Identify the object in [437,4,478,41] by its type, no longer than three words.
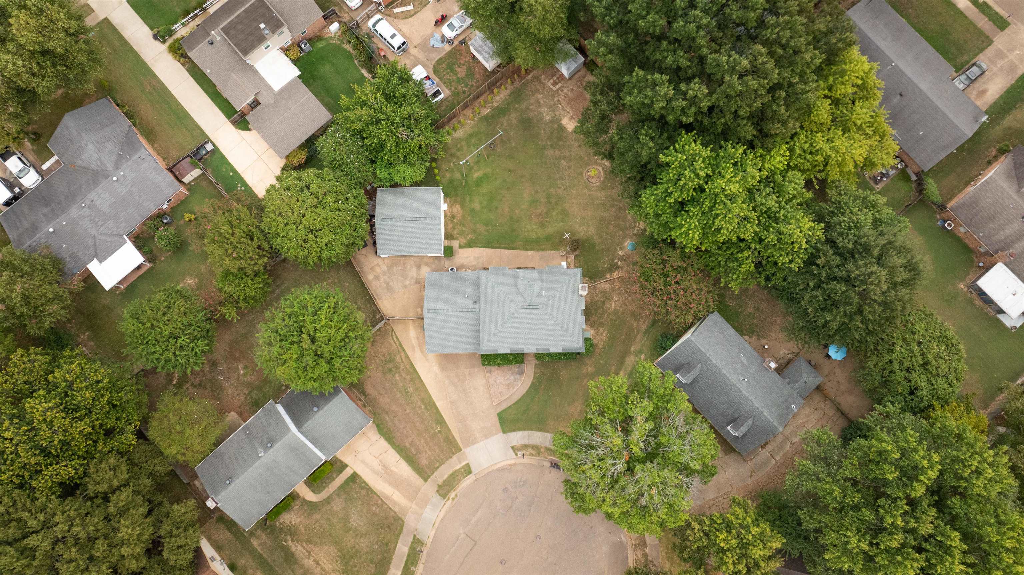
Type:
car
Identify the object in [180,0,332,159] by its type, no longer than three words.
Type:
house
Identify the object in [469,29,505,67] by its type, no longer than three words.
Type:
shed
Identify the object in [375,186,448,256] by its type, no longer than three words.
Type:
building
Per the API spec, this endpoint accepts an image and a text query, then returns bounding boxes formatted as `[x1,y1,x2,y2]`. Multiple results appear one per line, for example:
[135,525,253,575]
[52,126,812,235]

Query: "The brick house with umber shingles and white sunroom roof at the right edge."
[941,132,1024,320]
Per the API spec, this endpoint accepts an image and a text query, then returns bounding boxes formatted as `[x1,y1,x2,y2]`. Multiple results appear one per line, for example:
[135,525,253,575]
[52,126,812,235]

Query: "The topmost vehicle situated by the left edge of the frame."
[0,141,38,191]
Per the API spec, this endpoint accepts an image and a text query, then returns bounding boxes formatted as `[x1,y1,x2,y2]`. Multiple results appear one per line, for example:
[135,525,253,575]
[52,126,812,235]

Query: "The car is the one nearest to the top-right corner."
[953,55,996,91]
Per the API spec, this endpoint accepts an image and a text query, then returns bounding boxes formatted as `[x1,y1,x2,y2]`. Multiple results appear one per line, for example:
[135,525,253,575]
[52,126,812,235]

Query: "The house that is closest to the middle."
[423,266,588,355]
